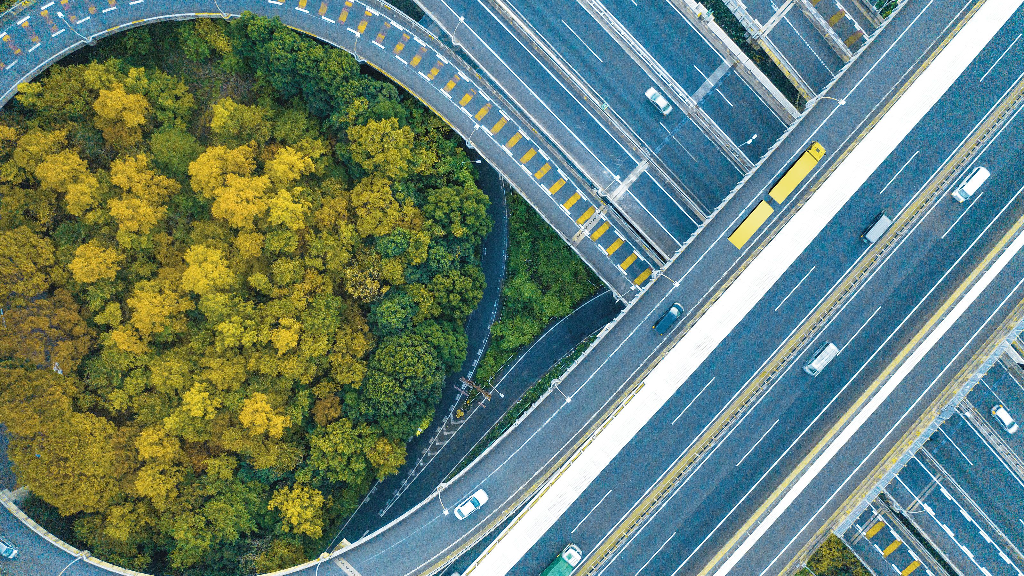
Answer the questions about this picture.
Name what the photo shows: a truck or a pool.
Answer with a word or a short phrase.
truck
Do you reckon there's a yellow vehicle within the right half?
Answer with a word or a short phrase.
Yes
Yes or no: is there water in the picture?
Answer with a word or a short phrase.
No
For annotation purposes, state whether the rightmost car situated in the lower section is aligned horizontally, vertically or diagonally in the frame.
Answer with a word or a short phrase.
diagonally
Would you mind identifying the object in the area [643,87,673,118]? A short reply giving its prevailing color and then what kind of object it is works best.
white car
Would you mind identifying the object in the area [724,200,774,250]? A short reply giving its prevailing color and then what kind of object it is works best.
yellow trailer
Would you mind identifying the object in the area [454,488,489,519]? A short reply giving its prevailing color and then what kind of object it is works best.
white car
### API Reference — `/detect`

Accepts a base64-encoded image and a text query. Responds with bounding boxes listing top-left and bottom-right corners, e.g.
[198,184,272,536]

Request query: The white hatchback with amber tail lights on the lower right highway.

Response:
[986,403,1016,433]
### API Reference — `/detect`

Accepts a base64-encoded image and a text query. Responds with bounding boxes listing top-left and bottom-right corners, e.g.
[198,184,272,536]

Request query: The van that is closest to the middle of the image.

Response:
[651,301,684,337]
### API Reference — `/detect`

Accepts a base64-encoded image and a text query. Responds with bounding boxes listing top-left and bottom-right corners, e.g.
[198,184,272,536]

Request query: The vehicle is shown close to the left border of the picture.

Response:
[0,527,22,556]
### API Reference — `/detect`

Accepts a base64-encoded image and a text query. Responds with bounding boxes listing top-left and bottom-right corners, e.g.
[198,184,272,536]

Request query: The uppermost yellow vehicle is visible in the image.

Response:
[764,139,828,206]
